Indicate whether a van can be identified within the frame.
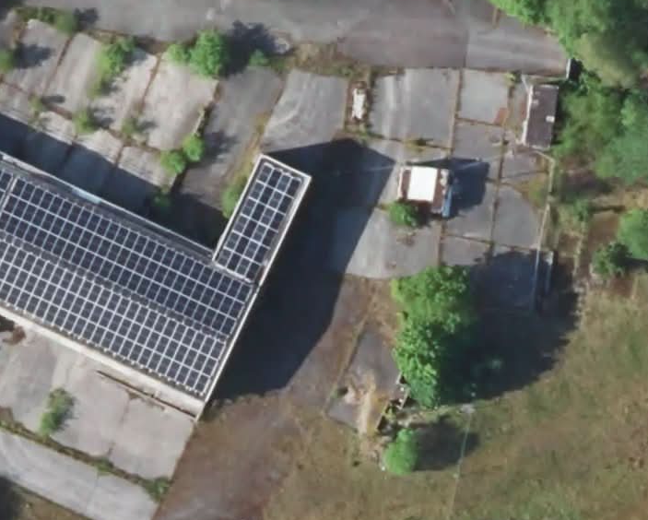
No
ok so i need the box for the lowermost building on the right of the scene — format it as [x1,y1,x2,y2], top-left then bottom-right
[393,167,450,216]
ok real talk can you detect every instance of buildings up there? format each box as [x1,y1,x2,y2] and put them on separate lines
[0,154,310,420]
[393,167,450,216]
[520,84,559,150]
